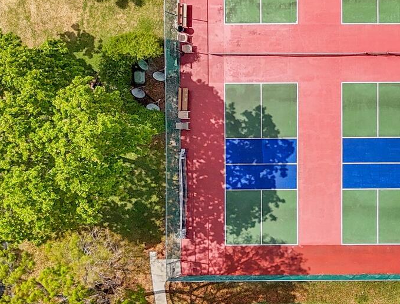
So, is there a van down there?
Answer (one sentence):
No, there's no van here.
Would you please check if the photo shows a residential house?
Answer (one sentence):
No, this view has no residential house in it.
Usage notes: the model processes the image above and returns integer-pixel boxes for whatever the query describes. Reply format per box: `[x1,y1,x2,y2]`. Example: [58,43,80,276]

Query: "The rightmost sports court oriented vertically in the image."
[341,82,400,244]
